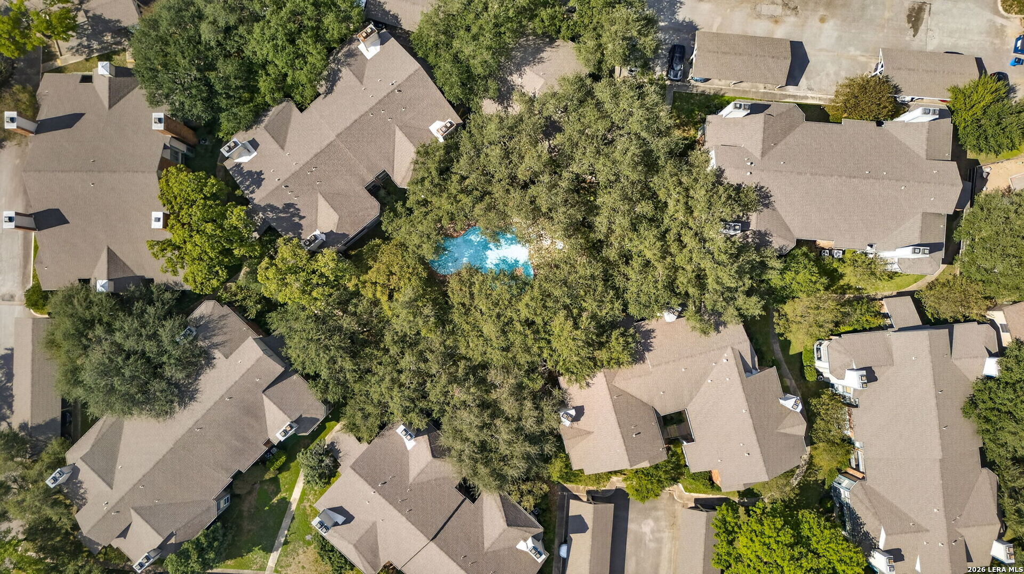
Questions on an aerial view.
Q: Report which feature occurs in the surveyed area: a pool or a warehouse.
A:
pool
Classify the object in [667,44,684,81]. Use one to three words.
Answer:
car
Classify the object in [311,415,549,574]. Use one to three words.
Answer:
house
